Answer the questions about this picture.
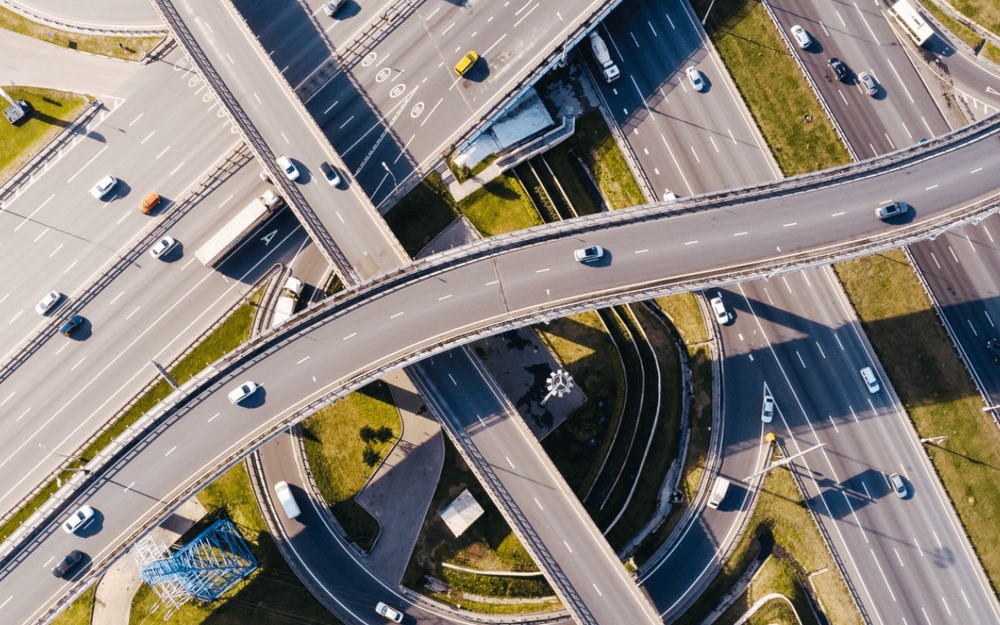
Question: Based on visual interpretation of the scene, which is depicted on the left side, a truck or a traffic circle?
truck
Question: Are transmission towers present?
Yes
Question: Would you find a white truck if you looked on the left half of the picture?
Yes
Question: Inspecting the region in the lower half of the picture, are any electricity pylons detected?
Yes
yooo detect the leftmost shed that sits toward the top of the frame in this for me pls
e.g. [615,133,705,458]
[453,132,501,170]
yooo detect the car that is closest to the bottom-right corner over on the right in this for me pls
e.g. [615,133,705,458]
[888,471,910,503]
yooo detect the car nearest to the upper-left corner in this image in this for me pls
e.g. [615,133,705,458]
[87,172,116,200]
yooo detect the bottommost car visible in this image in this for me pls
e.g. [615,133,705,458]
[373,601,405,625]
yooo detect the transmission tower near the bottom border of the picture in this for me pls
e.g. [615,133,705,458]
[127,514,263,618]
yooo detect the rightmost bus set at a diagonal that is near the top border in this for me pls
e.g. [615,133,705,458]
[891,0,936,46]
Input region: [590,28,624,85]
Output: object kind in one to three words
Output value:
truck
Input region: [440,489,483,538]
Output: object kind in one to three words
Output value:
shed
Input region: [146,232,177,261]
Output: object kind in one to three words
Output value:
car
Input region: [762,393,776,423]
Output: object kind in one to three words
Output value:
car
